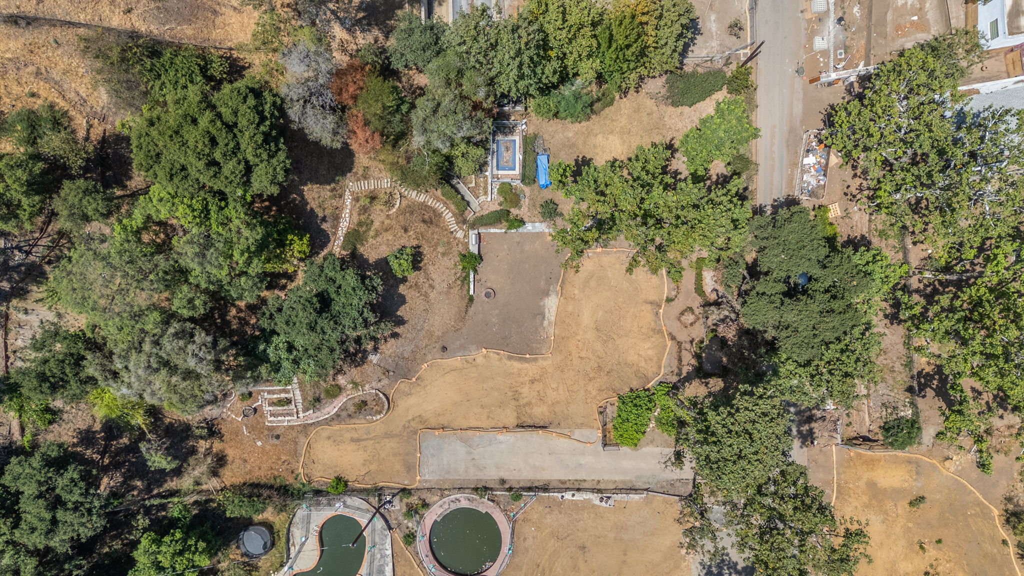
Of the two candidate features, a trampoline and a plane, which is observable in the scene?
trampoline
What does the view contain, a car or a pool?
pool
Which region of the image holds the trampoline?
bottom left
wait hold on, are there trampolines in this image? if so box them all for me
[235,525,270,562]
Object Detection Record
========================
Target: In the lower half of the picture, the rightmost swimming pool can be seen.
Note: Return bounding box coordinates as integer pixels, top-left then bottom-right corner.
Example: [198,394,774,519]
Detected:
[416,492,513,576]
